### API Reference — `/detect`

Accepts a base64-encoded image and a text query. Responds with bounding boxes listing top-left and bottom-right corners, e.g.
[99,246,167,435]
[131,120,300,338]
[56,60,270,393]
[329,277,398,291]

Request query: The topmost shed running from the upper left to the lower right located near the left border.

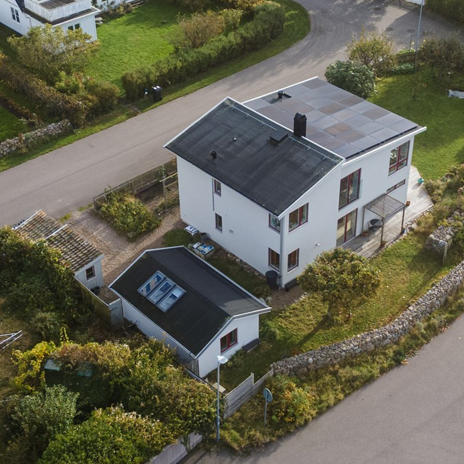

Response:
[14,208,106,290]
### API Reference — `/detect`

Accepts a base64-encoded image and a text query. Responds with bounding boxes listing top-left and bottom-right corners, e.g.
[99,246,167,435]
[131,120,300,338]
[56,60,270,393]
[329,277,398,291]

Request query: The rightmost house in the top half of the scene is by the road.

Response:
[165,78,431,289]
